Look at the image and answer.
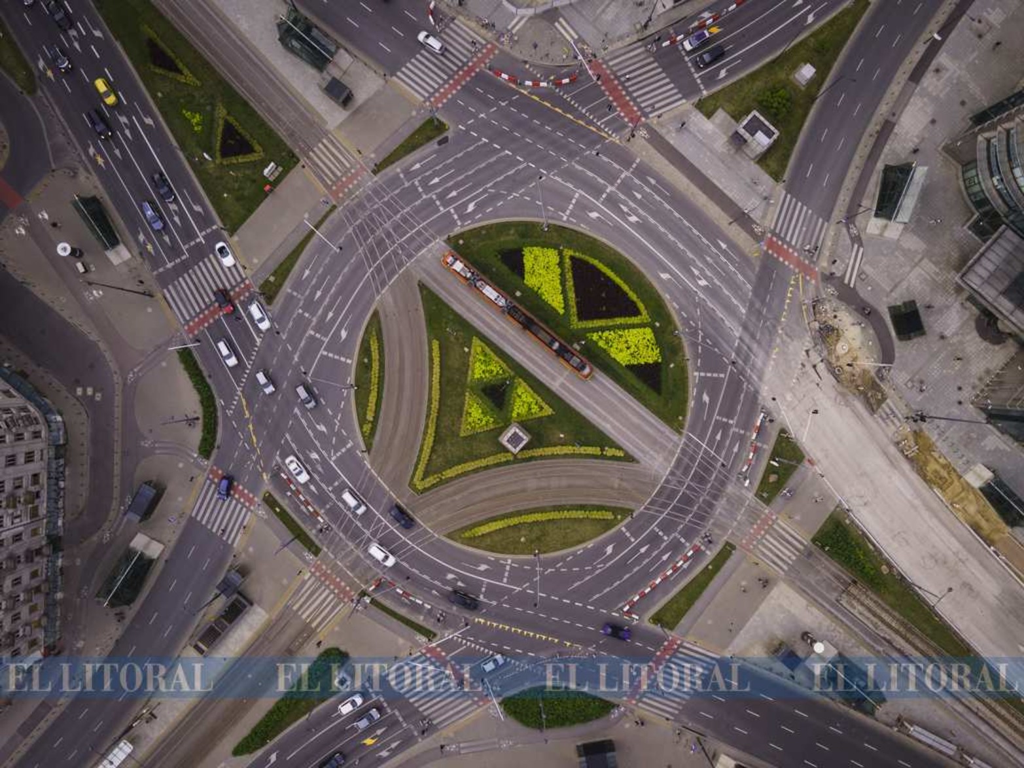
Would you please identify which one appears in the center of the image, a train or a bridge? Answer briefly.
train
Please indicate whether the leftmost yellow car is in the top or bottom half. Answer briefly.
top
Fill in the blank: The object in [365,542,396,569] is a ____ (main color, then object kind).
white car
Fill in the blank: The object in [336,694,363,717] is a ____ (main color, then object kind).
white car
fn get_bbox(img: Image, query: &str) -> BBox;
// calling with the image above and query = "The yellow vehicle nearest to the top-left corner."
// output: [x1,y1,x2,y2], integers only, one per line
[92,75,116,106]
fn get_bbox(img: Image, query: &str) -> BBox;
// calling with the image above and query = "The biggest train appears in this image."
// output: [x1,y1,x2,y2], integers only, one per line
[441,252,594,378]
